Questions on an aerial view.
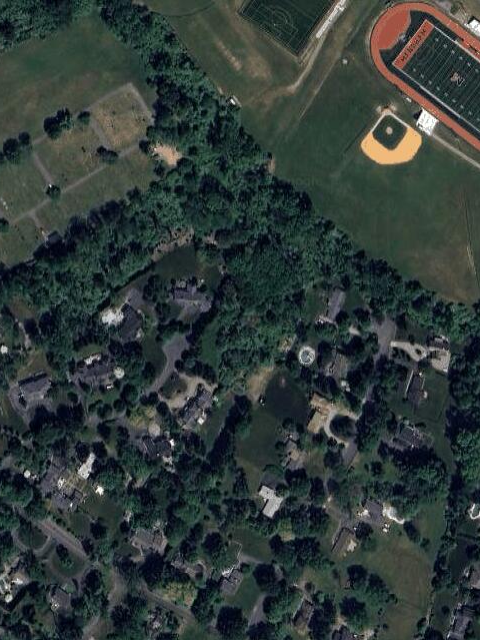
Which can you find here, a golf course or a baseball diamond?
baseball diamond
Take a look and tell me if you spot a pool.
Yes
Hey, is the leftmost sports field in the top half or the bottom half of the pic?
top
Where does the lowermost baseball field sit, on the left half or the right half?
right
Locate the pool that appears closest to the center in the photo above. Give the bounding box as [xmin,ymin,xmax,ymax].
[300,347,315,363]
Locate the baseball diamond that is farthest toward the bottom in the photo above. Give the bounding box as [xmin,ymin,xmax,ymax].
[361,108,422,165]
